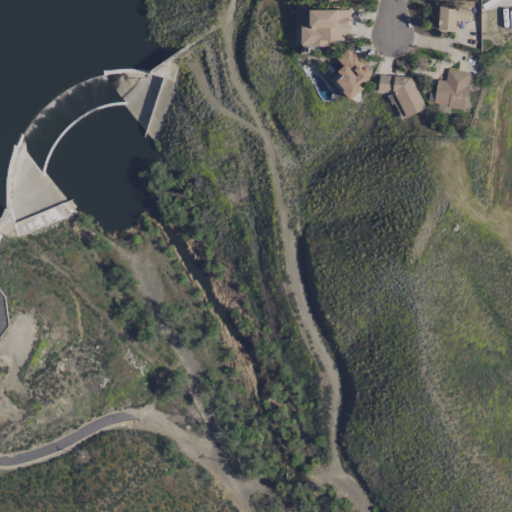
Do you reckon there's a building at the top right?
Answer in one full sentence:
Yes, the scene does show a building at the top right.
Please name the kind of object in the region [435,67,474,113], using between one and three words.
house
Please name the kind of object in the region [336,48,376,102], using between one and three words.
house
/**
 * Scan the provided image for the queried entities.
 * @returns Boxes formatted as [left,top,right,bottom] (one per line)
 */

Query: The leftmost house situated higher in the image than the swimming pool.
[302,9,352,47]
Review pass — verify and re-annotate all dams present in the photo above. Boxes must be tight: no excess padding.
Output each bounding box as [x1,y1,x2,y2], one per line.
[0,38,204,240]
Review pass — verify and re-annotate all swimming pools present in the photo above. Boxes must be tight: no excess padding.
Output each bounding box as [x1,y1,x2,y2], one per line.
[312,65,334,101]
